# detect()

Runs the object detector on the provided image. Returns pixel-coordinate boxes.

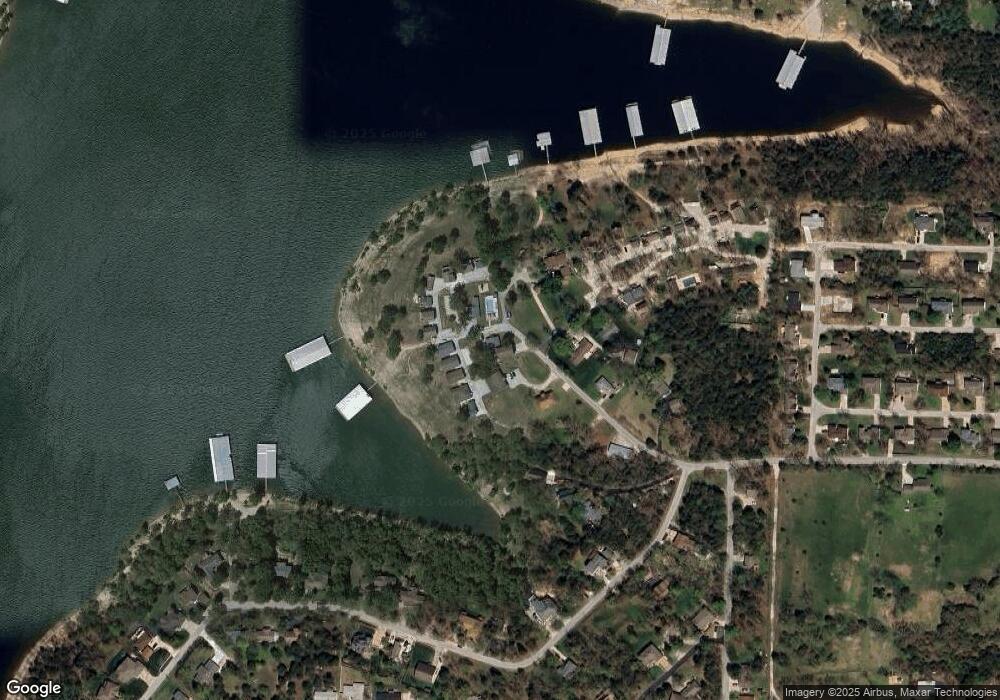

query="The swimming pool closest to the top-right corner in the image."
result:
[678,273,701,290]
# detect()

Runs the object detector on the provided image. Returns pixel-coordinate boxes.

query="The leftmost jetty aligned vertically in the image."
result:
[209,433,233,491]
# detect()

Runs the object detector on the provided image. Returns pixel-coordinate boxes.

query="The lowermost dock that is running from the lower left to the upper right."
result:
[335,383,378,419]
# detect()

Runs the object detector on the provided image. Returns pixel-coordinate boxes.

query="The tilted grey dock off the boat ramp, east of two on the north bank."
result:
[776,39,807,90]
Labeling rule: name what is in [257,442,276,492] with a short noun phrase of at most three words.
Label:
pier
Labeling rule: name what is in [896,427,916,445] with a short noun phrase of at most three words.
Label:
house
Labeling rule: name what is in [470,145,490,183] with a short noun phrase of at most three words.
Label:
pier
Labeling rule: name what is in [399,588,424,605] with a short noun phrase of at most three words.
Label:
house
